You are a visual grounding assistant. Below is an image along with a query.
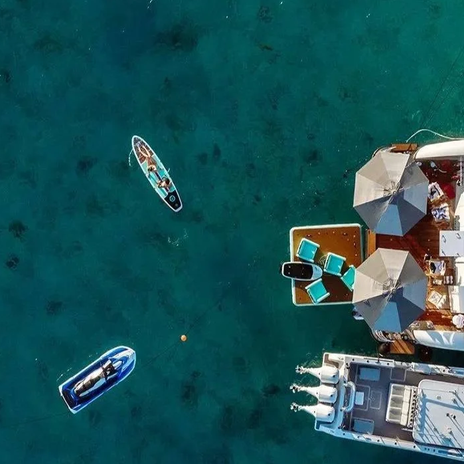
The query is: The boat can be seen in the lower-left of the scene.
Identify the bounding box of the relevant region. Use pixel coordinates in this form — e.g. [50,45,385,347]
[58,350,136,412]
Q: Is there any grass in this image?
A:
No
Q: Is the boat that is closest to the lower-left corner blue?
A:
Yes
